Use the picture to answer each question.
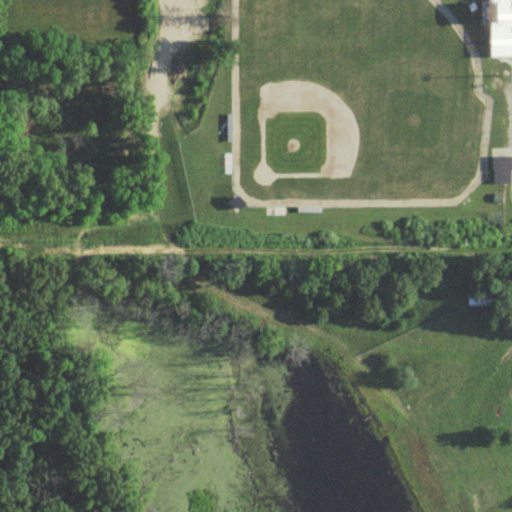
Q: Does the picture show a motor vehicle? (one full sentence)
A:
No, I can't see a single motor vehicle in this photo.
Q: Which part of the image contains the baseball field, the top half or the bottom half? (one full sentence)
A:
The top half of the photo is where the baseball field is.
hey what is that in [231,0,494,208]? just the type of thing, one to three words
baseball field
